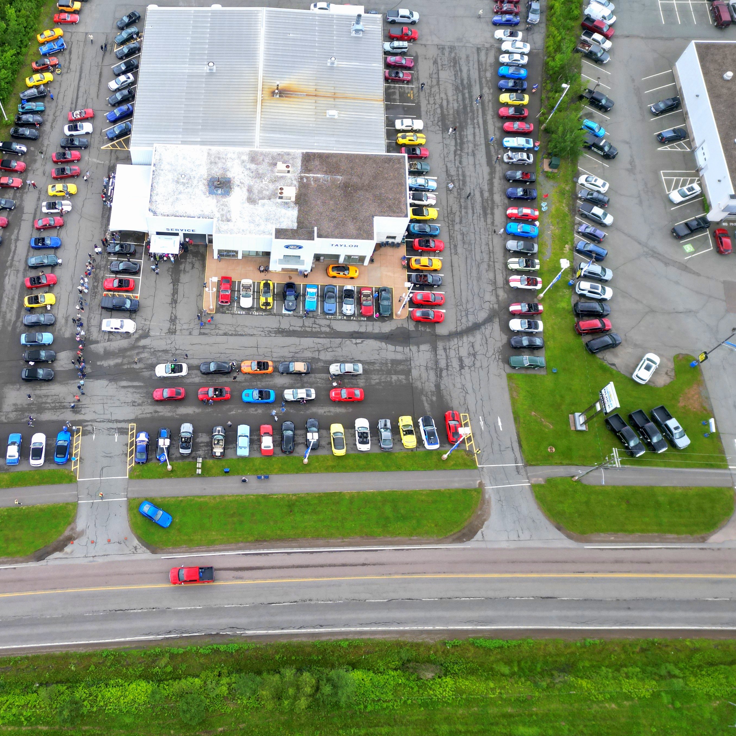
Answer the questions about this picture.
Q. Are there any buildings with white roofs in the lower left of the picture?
No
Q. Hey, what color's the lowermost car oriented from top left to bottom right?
blue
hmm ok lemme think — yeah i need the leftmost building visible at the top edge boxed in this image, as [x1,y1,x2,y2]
[129,1,412,275]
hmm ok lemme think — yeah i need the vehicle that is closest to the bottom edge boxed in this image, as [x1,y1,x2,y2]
[170,566,215,585]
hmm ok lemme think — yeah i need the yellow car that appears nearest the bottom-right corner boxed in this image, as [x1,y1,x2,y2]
[400,416,416,449]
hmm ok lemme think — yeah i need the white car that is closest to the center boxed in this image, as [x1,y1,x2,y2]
[329,361,363,377]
